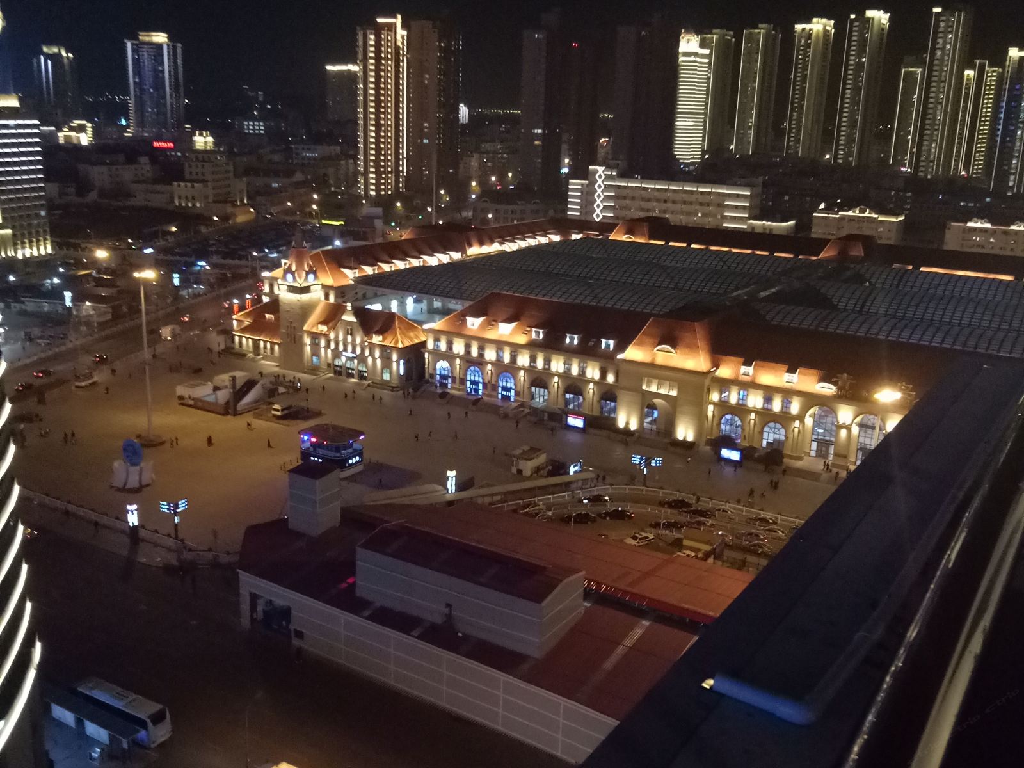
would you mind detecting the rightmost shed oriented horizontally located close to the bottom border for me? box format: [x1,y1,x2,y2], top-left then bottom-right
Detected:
[240,503,751,768]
